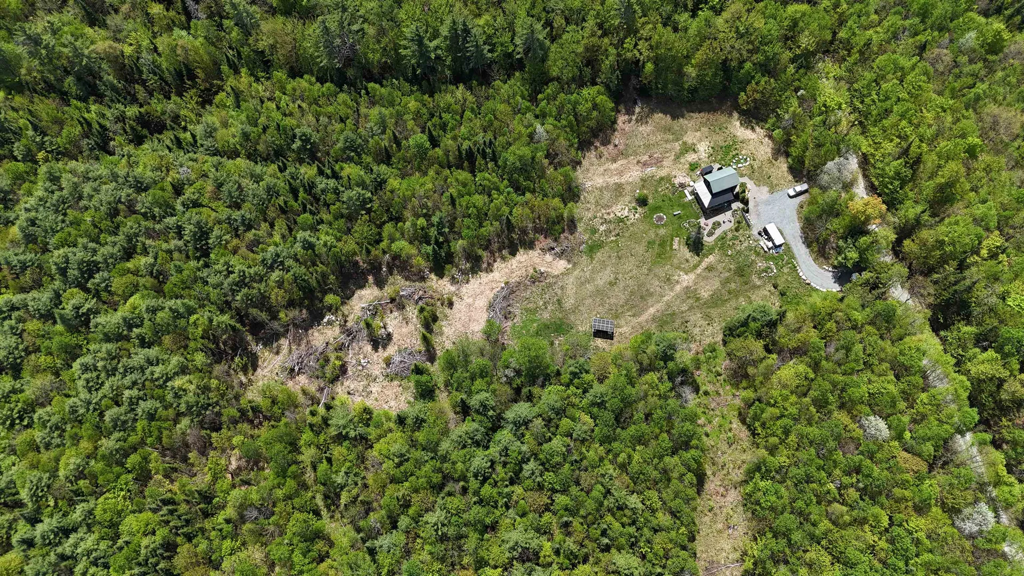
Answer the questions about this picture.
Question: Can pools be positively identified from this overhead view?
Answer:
No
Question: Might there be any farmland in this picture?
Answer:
No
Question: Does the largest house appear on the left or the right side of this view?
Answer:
right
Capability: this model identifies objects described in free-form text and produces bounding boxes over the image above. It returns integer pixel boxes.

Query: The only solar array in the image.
[592,318,614,332]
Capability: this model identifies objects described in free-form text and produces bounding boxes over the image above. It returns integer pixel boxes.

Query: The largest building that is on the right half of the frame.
[694,166,739,216]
